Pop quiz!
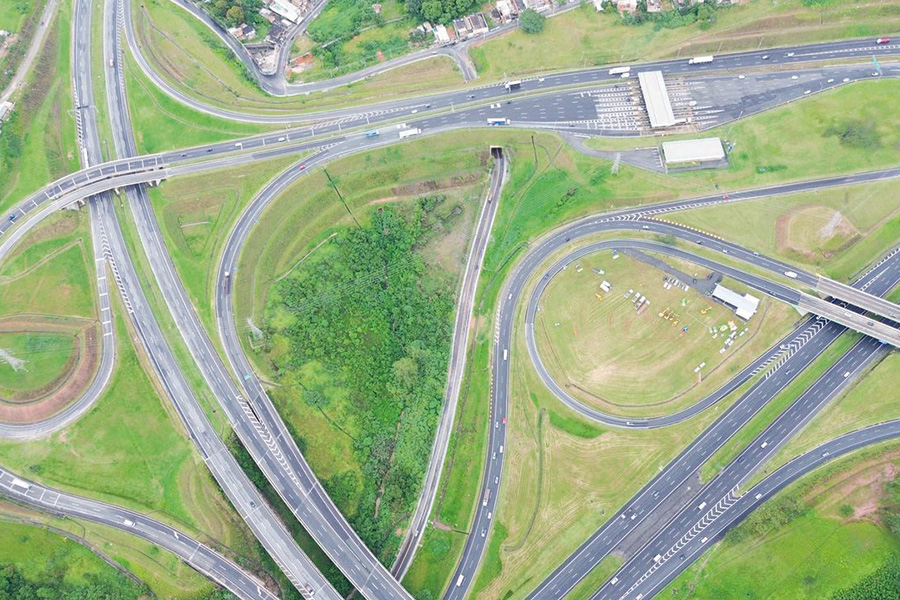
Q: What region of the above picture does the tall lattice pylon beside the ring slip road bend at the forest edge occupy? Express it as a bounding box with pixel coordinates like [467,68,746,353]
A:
[246,320,265,341]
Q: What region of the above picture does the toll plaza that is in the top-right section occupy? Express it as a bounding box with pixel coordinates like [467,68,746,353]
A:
[628,71,700,131]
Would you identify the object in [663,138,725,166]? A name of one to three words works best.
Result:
building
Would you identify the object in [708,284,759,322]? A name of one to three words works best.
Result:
building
